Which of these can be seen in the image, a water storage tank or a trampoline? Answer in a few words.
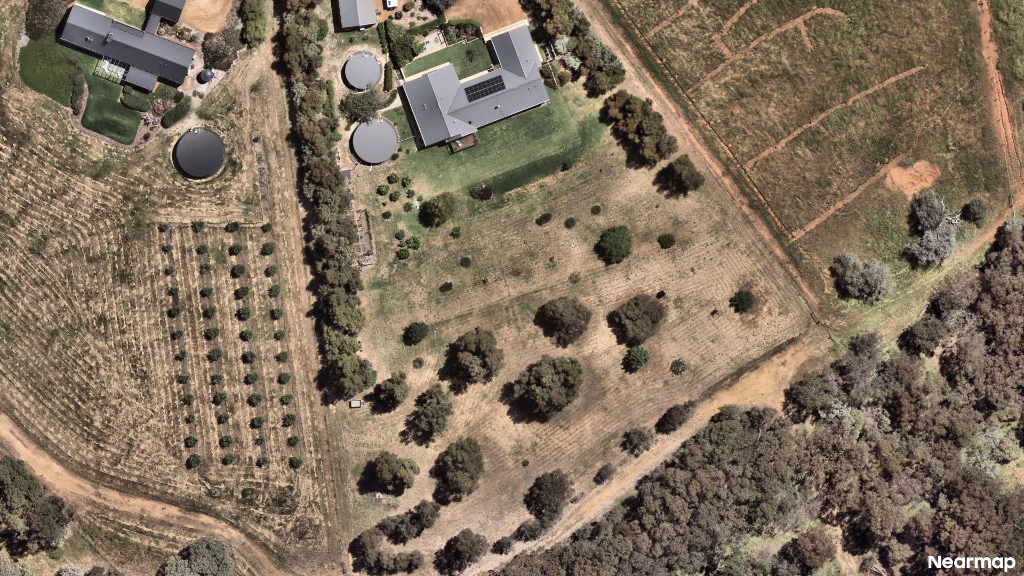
water storage tank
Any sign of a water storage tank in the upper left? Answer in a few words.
Yes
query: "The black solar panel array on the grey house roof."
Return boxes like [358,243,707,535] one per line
[464,75,505,102]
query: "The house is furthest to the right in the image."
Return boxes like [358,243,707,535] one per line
[403,25,551,146]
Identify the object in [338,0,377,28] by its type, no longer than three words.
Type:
shed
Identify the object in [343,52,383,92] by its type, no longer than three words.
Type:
water tank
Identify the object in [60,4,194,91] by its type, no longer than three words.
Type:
house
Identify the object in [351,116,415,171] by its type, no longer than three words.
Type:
water tank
